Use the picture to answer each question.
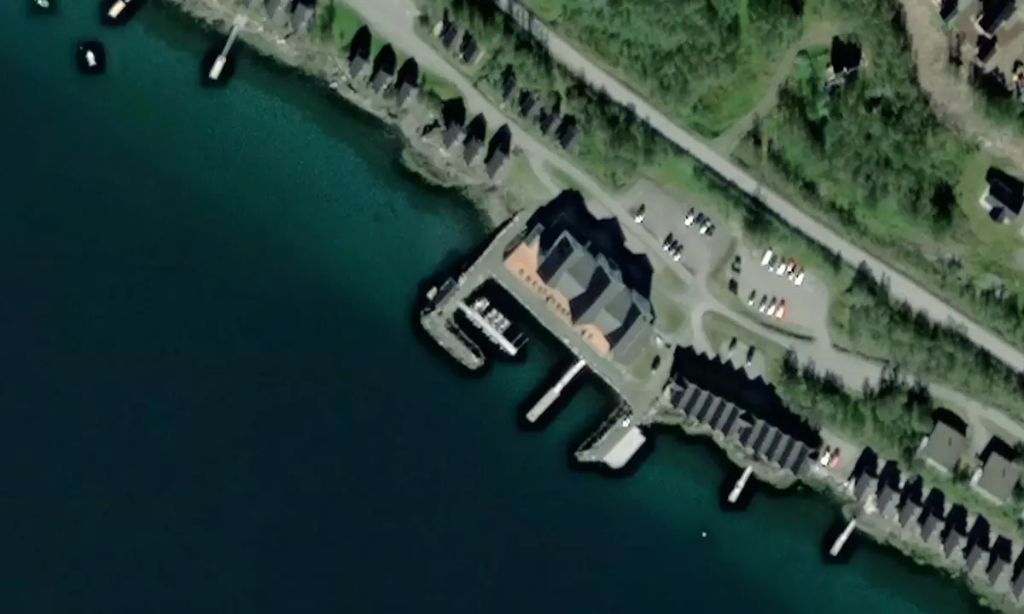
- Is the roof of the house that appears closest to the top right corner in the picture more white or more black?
black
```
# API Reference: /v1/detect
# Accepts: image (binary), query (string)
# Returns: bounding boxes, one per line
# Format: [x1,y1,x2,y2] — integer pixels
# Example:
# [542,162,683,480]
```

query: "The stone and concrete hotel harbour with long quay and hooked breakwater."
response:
[419,217,662,464]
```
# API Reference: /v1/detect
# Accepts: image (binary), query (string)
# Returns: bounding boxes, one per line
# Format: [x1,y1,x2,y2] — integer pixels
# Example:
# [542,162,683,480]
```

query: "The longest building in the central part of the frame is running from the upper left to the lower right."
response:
[530,218,658,366]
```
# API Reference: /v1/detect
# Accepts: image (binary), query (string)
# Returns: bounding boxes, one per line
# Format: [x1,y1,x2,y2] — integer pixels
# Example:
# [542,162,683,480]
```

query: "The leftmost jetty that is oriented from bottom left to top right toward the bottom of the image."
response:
[526,359,585,422]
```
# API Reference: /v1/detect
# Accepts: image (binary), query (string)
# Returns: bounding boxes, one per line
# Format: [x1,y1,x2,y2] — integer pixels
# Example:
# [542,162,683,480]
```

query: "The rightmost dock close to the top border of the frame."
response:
[210,29,235,81]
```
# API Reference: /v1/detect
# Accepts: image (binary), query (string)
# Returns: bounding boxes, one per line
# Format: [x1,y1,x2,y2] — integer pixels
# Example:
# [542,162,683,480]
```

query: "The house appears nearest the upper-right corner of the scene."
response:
[971,0,1016,36]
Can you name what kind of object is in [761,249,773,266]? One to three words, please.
vehicle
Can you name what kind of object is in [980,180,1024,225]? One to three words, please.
house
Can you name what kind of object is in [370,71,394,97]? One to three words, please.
building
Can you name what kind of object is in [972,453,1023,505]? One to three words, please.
house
